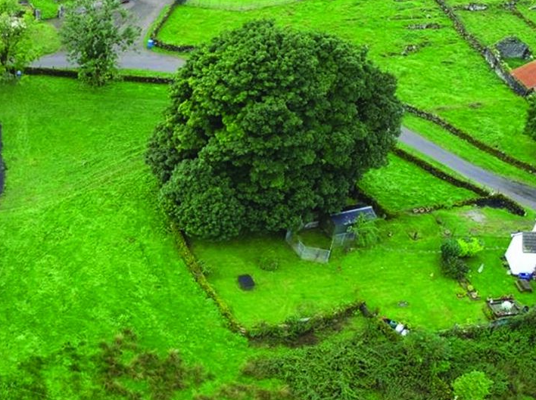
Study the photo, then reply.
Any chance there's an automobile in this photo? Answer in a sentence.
No, there isn't any automobile down there.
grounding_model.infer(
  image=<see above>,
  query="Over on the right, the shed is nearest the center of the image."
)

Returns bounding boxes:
[322,200,378,234]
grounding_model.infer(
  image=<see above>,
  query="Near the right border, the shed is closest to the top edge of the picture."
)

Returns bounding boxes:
[498,38,534,67]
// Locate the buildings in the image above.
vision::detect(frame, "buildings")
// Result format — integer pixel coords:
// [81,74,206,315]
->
[507,61,536,99]
[499,233,536,275]
[322,200,378,234]
[498,38,534,67]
